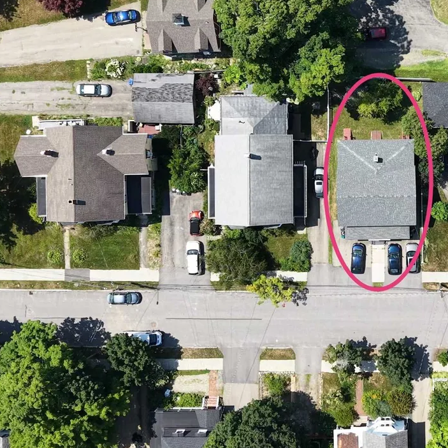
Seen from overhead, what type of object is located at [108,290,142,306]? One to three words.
car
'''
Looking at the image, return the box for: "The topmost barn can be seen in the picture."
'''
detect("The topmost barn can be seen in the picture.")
[145,0,222,54]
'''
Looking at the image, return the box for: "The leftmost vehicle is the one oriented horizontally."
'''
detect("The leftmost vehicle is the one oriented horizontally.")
[76,82,112,98]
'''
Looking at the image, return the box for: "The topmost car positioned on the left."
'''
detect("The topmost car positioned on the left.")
[105,10,140,26]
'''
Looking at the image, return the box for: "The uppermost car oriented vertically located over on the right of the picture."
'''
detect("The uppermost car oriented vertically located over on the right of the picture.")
[312,166,326,198]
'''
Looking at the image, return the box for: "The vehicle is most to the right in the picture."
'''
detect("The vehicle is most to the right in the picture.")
[406,243,419,274]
